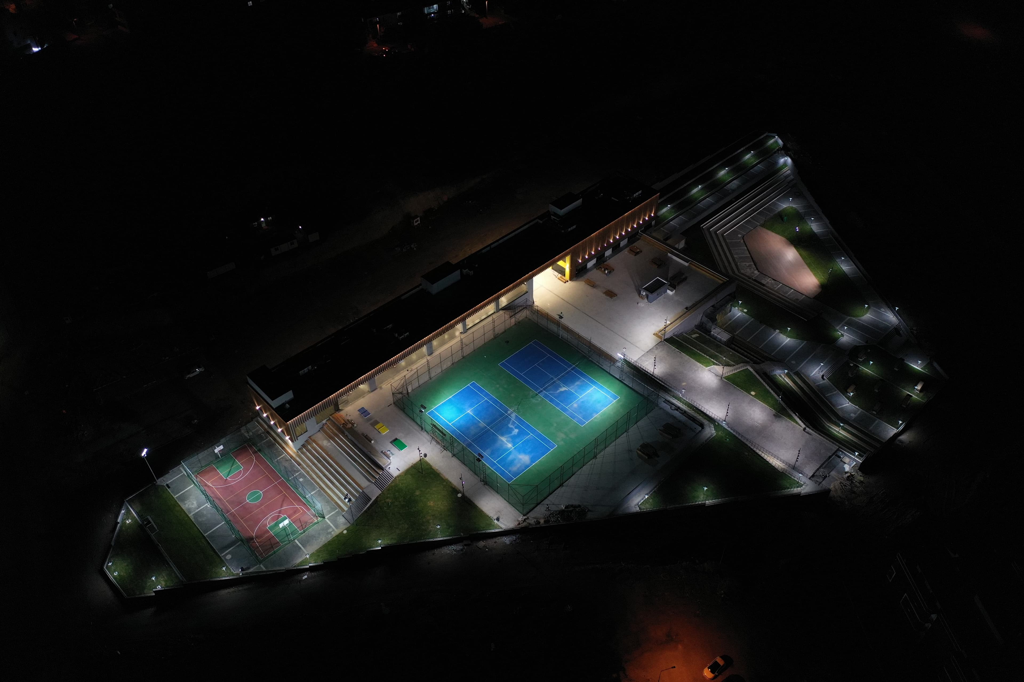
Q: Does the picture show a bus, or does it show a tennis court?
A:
tennis court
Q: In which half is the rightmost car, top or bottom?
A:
bottom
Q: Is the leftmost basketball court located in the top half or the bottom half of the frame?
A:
bottom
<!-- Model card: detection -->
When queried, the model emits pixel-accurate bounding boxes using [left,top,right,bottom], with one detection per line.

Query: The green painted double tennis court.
[395,317,657,514]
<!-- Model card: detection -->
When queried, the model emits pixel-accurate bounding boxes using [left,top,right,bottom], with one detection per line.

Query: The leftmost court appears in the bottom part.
[188,437,323,562]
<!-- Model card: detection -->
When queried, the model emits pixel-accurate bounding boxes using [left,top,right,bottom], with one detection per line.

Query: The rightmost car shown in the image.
[702,655,728,681]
